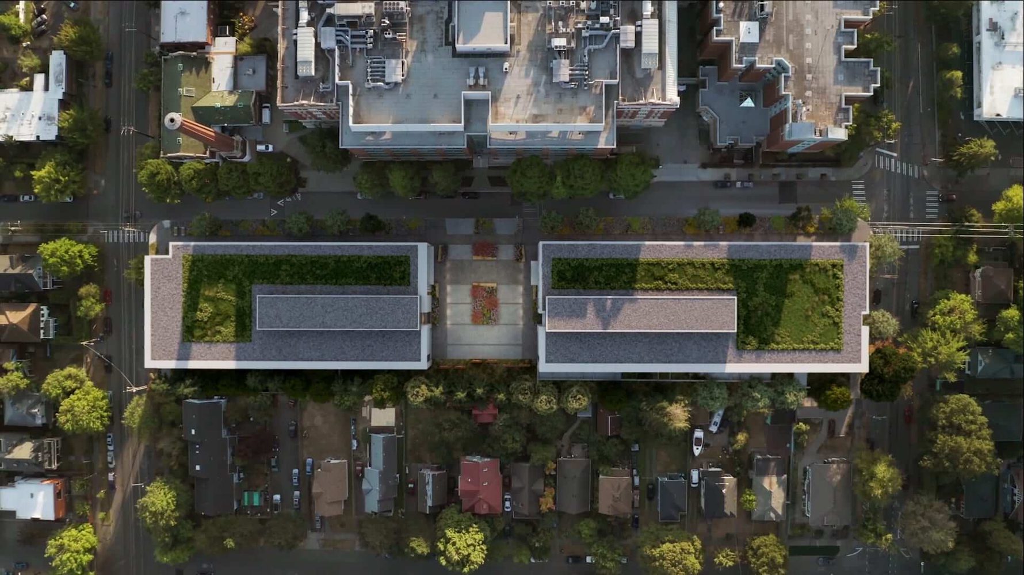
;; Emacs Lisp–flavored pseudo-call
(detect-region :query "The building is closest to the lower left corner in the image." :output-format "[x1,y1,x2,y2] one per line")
[0,473,74,520]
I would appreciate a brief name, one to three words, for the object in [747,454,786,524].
house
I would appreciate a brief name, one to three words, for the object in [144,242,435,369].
building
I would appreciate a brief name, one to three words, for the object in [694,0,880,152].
building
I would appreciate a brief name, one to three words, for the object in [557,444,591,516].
house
